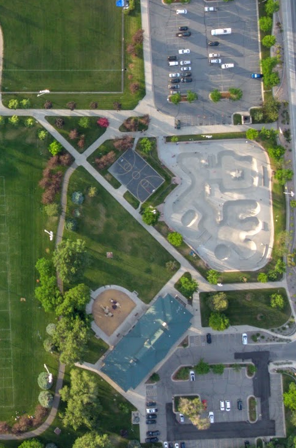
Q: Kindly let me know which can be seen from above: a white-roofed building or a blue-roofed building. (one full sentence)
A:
I can see a blue-roofed building in this picture.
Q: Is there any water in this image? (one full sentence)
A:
No, no water is visible.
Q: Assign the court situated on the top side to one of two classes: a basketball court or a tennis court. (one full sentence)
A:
The court situated on the top side appears to be a basketball court.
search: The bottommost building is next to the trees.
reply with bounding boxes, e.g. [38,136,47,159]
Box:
[101,294,193,392]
